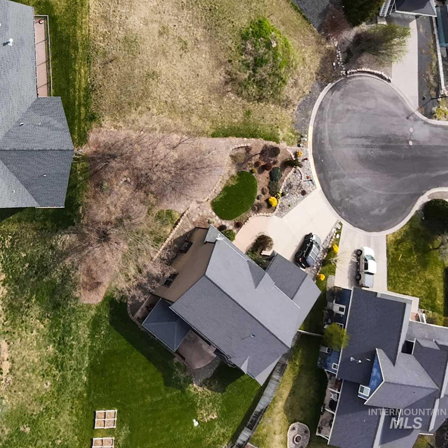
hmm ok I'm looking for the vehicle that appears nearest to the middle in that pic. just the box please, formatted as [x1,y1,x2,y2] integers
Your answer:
[296,231,322,270]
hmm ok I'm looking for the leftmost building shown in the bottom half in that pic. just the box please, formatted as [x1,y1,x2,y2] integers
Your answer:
[136,236,325,387]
